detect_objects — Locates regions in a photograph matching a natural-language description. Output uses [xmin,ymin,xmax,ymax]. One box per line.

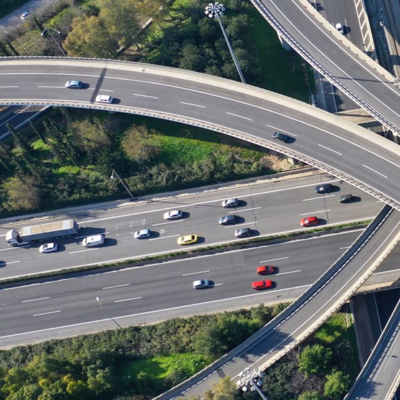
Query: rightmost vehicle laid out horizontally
[333,192,358,205]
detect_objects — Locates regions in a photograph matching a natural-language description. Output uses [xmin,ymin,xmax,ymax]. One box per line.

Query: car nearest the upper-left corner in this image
[18,8,33,22]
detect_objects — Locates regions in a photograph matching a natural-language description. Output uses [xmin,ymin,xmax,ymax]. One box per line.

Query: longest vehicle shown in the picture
[1,220,77,248]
